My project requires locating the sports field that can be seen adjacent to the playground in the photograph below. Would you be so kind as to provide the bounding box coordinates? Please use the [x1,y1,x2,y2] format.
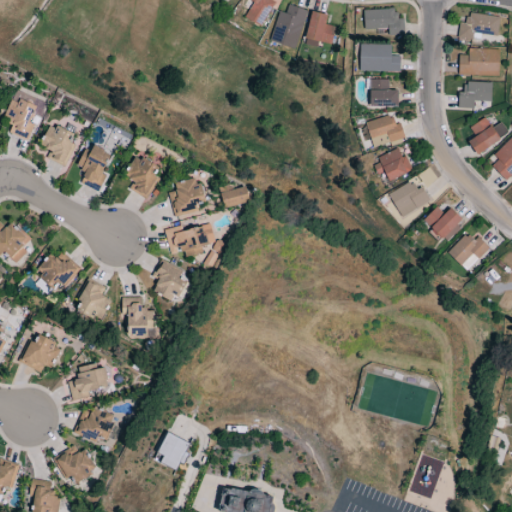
[354,362,440,428]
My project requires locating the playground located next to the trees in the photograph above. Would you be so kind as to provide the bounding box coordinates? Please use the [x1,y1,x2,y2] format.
[405,451,455,512]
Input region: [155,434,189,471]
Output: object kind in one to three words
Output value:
shed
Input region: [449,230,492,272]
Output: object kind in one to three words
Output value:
house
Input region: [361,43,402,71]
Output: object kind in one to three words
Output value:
house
